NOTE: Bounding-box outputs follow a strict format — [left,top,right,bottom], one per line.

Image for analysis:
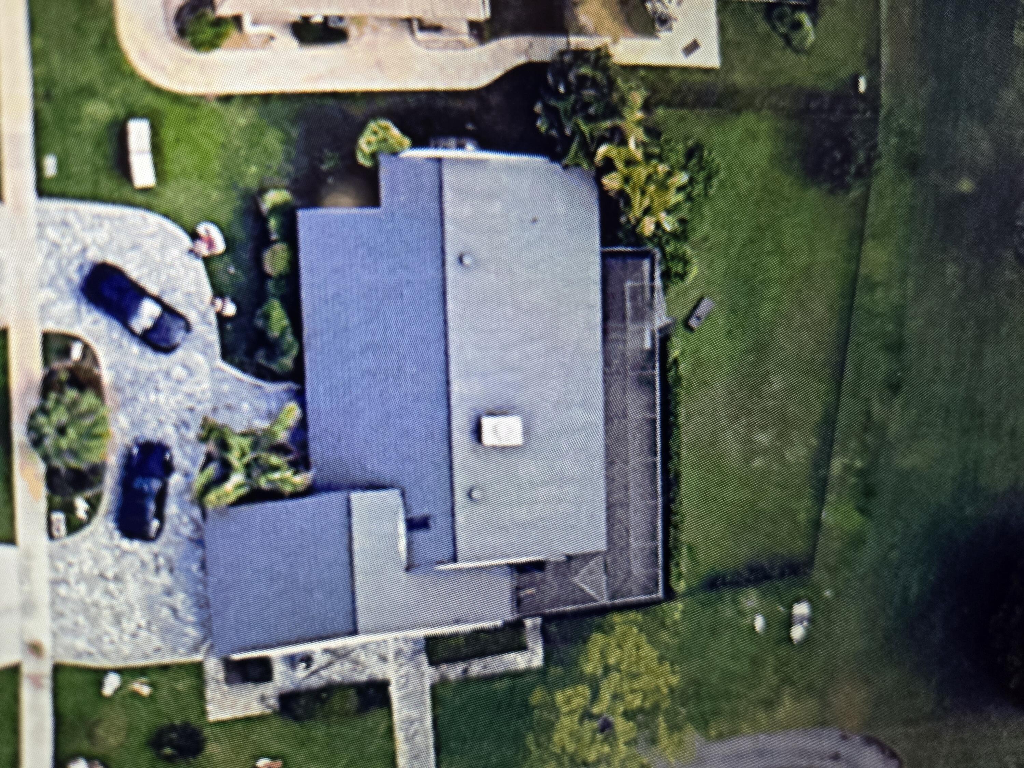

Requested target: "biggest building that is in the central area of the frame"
[206,152,607,663]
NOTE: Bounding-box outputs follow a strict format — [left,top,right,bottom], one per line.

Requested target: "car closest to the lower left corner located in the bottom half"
[118,440,173,545]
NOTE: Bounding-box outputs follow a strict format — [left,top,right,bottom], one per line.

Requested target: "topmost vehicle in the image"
[77,255,196,353]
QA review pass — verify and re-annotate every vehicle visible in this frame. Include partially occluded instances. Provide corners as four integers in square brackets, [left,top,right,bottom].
[77,255,196,353]
[118,440,173,545]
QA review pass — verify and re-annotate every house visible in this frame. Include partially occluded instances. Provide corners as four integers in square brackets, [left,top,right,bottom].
[218,0,495,48]
[206,152,607,663]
